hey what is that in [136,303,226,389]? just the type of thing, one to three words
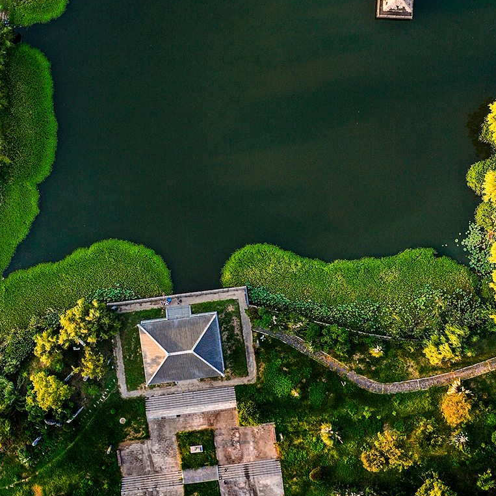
building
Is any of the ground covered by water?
Yes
